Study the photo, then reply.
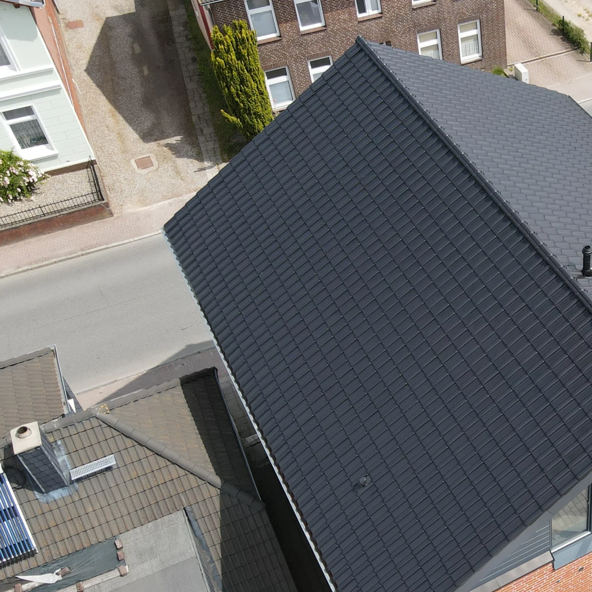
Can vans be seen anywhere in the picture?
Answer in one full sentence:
No, no van is visible in the scene.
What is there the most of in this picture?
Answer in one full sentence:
What you mostly see from above here is buildings.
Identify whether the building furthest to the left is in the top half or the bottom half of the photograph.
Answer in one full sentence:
The building furthest to the left is in the top half of the image.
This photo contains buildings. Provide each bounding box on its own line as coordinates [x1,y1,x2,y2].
[0,340,300,592]
[158,32,592,592]
[0,0,95,186]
